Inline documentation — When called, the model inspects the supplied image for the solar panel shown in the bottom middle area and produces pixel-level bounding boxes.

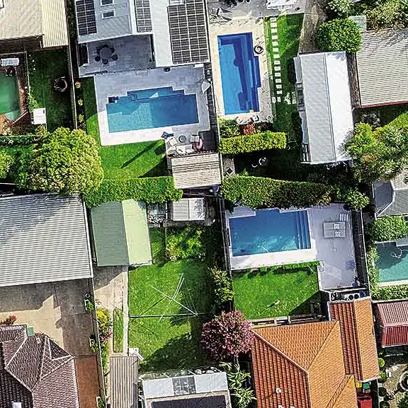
[154,395,224,408]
